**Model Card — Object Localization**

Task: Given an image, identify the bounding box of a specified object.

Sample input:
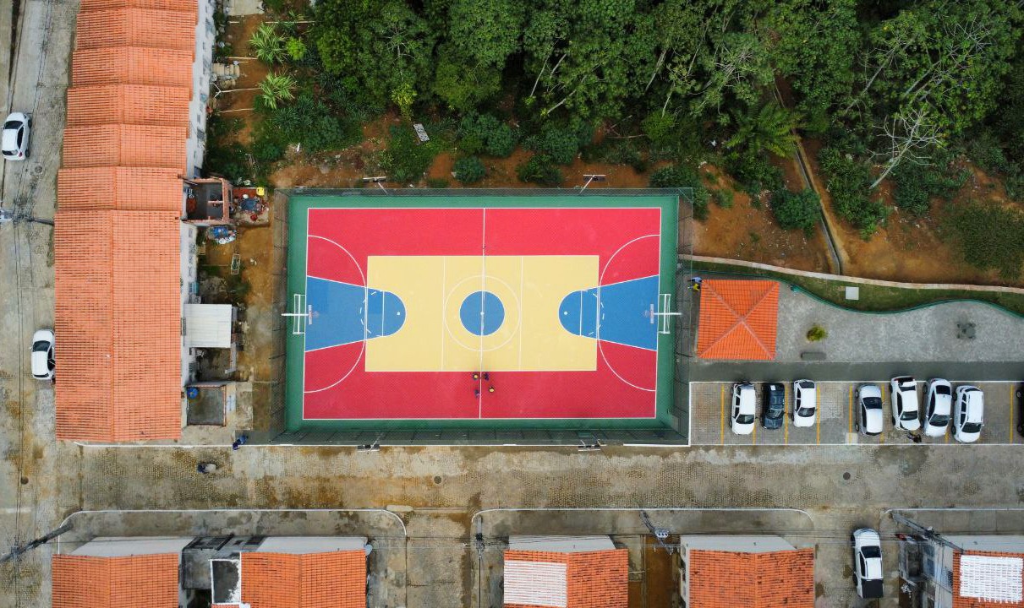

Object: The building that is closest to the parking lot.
[694,279,782,362]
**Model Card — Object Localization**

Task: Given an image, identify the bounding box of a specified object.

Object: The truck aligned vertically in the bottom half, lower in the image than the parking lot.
[853,529,886,600]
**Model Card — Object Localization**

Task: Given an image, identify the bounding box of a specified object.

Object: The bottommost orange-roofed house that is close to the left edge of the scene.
[51,538,188,608]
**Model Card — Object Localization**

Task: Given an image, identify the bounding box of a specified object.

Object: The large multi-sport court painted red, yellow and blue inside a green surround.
[285,195,678,431]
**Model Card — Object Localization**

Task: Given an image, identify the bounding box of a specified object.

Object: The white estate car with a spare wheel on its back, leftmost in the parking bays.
[730,380,758,435]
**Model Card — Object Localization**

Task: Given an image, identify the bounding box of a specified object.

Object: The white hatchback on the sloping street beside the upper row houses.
[0,112,35,159]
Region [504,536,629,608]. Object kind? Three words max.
house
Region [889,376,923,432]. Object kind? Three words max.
car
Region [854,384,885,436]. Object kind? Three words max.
car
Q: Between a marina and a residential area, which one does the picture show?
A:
residential area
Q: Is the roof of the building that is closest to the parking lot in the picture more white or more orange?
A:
orange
